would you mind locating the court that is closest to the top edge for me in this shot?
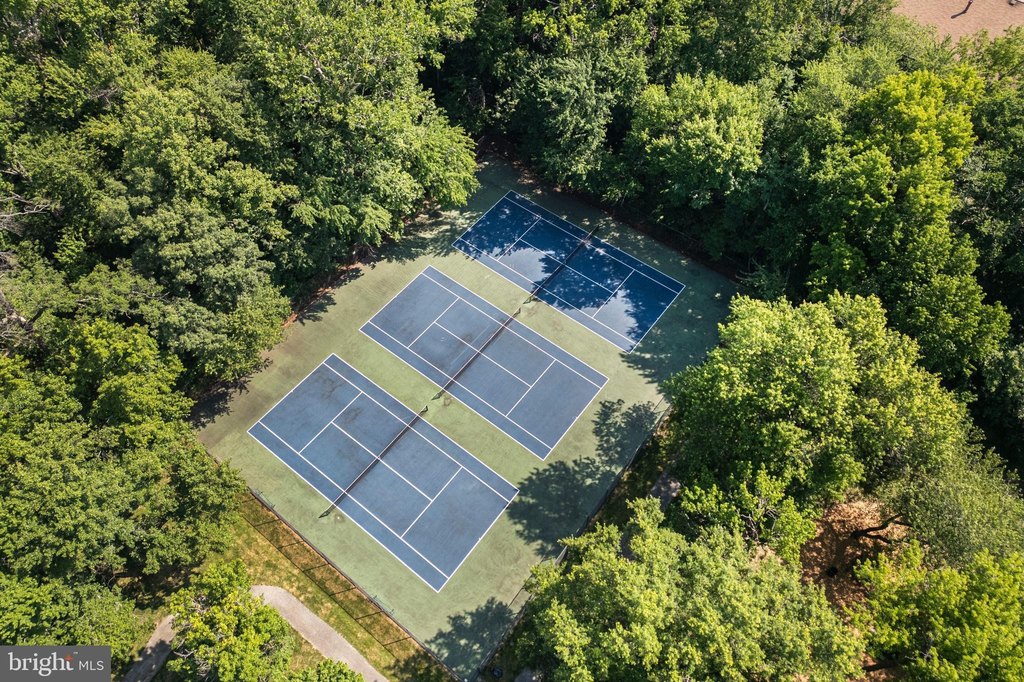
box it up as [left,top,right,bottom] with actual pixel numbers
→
[453,191,683,352]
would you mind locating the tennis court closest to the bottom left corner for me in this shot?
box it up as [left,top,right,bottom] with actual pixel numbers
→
[248,354,518,590]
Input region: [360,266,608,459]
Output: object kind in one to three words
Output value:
tennis court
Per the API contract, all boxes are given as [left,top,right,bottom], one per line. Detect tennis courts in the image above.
[248,354,518,590]
[453,191,683,352]
[360,266,608,459]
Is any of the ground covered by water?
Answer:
No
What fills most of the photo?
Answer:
trees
